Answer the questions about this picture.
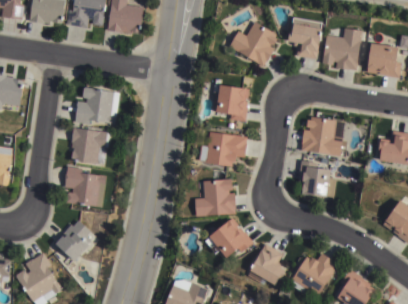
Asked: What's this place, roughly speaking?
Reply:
residential area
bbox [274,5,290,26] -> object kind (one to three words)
swimming pool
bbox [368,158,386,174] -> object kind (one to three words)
swimming pool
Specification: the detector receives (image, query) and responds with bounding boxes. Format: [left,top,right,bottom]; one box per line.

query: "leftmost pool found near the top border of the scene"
[231,9,254,26]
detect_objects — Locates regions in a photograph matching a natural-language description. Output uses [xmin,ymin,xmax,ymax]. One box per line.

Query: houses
[196,180,237,216]
[385,201,408,244]
[211,220,256,258]
[56,222,96,266]
[369,44,403,78]
[296,256,336,296]
[0,252,11,287]
[234,23,279,72]
[289,18,324,58]
[68,0,106,26]
[66,166,106,208]
[108,0,144,33]
[202,132,248,166]
[17,254,68,304]
[218,84,251,122]
[302,118,347,158]
[0,74,24,110]
[0,147,14,186]
[324,28,368,70]
[0,0,24,18]
[337,272,375,304]
[30,0,66,26]
[250,244,294,286]
[303,160,338,198]
[168,280,208,304]
[380,132,408,165]
[70,129,112,164]
[75,88,120,124]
